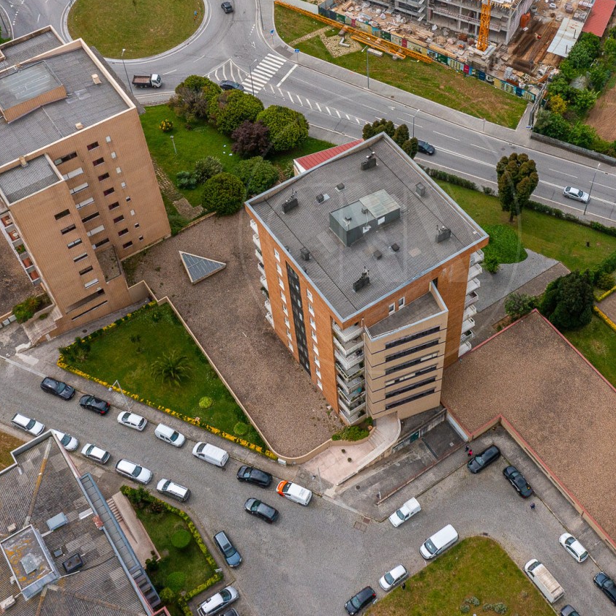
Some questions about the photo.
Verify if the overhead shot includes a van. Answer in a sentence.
Yes, there's a van here.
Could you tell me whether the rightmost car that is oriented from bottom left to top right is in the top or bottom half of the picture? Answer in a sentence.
The rightmost car that is oriented from bottom left to top right sits in the bottom half of the picture.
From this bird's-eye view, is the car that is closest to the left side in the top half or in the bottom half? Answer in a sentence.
It is in the bottom half that the car that is closest to the left side appears.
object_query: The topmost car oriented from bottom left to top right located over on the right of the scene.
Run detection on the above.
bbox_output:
[464,441,504,477]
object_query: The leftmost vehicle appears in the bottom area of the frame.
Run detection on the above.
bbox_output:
[7,411,50,438]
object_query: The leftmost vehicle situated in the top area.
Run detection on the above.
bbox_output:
[129,71,162,88]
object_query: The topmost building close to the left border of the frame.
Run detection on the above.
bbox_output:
[0,26,171,325]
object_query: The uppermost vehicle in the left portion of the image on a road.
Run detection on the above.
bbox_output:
[219,1,235,17]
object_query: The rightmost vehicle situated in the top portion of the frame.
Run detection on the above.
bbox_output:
[561,185,592,203]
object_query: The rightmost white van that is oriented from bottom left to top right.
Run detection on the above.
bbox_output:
[416,520,462,563]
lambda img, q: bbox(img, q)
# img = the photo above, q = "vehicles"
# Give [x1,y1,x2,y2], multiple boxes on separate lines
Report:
[77,394,114,417]
[51,423,82,451]
[499,463,537,502]
[555,531,593,567]
[189,440,231,470]
[216,78,245,91]
[464,441,504,477]
[590,571,616,608]
[520,558,569,607]
[194,585,241,616]
[342,583,381,616]
[129,71,162,88]
[153,479,192,504]
[114,413,150,435]
[7,411,50,438]
[209,528,245,570]
[387,490,426,530]
[413,137,439,155]
[561,185,592,203]
[273,480,314,507]
[377,562,411,597]
[149,419,189,449]
[234,465,275,490]
[77,442,113,466]
[416,520,462,563]
[241,498,280,525]
[112,458,154,485]
[37,377,78,402]
[219,1,235,17]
